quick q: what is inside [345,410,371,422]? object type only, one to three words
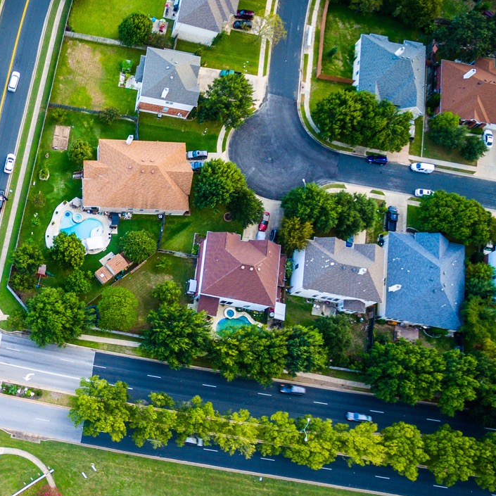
vehicle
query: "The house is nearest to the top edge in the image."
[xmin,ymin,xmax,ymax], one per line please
[174,0,239,45]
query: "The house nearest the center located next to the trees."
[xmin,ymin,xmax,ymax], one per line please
[194,231,286,317]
